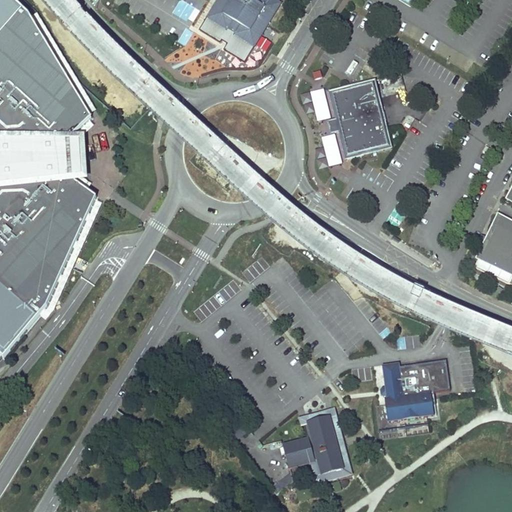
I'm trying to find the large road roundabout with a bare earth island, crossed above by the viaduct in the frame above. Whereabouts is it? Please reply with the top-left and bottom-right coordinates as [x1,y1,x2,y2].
[166,82,304,225]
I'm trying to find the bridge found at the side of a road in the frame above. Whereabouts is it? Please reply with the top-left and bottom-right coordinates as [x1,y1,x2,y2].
[39,0,512,356]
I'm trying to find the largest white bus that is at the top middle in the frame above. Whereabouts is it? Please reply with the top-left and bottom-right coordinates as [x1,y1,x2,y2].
[233,74,276,98]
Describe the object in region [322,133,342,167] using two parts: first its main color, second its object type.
white tent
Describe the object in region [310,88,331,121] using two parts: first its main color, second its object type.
white tent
